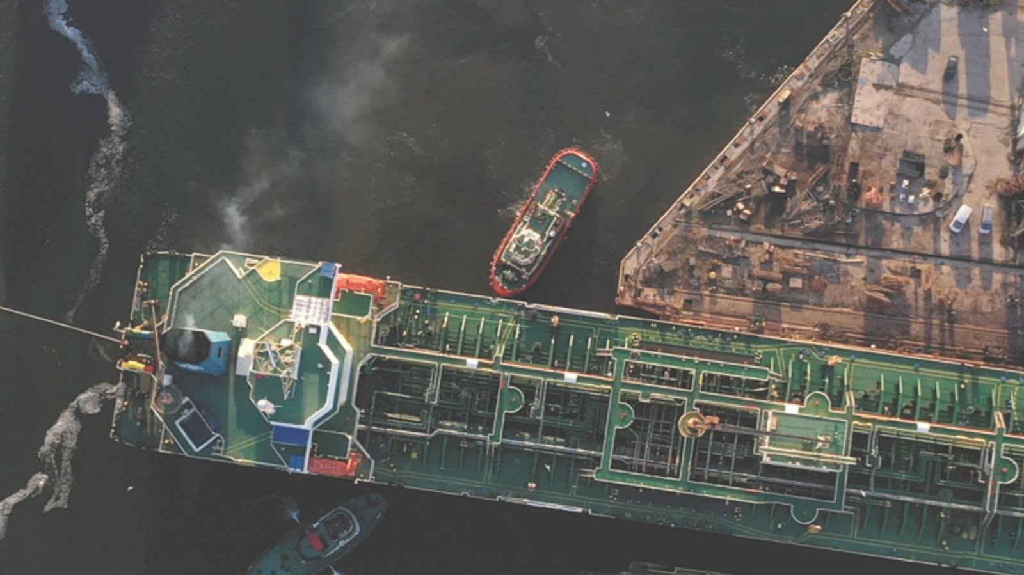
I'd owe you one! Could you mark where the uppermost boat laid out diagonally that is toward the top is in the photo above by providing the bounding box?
[489,148,600,298]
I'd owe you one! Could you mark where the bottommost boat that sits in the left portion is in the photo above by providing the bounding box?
[246,489,397,575]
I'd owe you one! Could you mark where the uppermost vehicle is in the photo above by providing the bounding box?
[942,54,960,81]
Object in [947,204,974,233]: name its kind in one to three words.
vehicle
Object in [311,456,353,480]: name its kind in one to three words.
boat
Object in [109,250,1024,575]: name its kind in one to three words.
ship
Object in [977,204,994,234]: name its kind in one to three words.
vehicle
